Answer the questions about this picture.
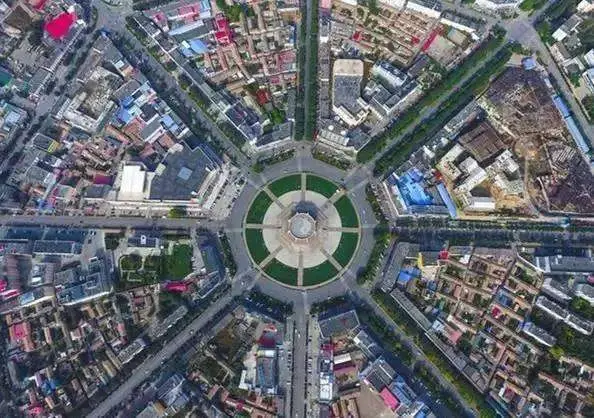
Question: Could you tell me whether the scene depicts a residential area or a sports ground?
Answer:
residential area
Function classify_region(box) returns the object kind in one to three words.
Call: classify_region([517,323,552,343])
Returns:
building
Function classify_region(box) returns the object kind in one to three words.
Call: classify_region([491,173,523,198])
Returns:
house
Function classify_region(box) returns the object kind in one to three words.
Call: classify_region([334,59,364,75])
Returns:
building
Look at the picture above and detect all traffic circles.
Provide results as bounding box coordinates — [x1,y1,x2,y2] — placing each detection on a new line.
[243,171,361,289]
